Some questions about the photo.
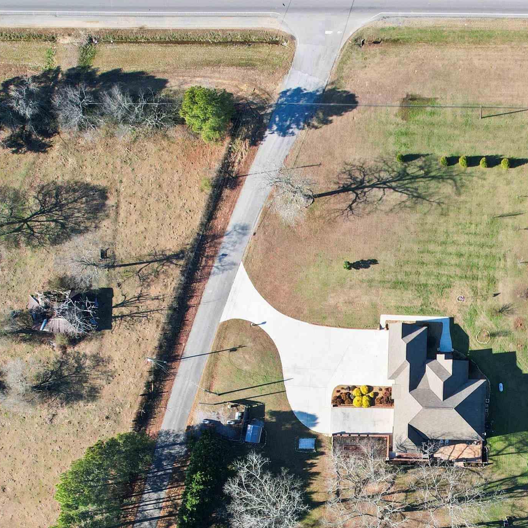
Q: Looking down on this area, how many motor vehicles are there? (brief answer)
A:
none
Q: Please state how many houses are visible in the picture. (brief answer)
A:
two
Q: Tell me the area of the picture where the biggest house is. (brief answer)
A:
bottom right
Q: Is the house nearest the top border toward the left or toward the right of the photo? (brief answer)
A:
left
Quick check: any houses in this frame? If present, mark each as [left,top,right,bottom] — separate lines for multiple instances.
[388,321,486,451]
[26,287,104,333]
